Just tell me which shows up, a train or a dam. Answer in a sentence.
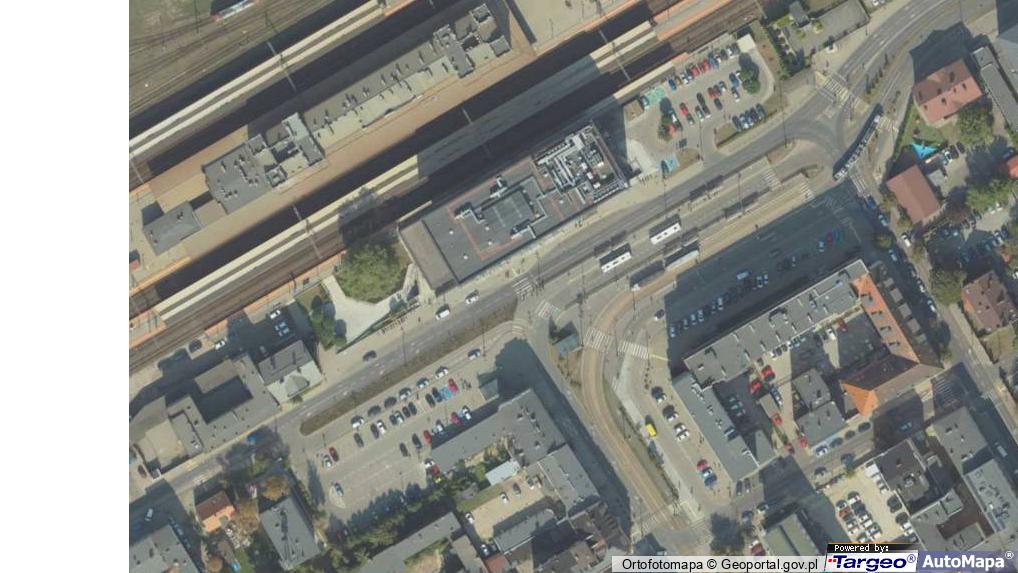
Visible in the photo is a train.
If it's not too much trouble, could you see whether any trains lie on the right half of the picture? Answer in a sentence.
Yes, a train is visible on the right half of the picture.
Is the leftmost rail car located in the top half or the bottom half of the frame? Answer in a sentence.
The leftmost rail car is in the top half of the image.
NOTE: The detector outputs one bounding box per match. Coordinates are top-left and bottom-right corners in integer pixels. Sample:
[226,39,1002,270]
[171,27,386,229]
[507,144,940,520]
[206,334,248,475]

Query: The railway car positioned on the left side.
[214,0,259,22]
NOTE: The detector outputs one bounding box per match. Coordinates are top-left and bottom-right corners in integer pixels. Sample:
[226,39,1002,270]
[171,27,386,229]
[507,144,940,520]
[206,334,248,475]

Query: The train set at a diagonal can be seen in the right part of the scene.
[836,116,882,175]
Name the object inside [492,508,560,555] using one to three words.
shed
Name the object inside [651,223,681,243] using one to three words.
vehicle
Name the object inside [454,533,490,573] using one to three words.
building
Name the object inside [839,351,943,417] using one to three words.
house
